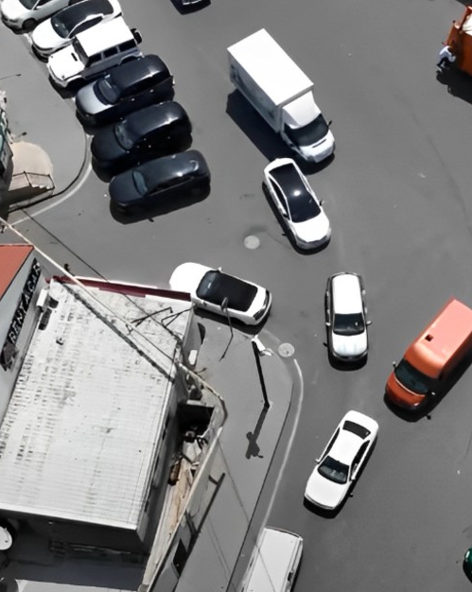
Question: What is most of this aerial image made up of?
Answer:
paved ground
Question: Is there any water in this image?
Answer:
No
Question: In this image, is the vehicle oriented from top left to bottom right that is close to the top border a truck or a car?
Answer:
truck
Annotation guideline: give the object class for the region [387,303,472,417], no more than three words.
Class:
van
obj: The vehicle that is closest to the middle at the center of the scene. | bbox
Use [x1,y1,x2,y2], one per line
[168,263,270,327]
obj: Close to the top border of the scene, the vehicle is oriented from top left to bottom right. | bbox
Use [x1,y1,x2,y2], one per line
[227,28,335,163]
